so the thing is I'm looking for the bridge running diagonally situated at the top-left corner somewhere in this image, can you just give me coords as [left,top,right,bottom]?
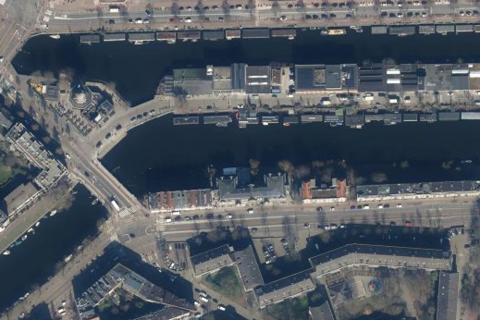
[0,29,31,64]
